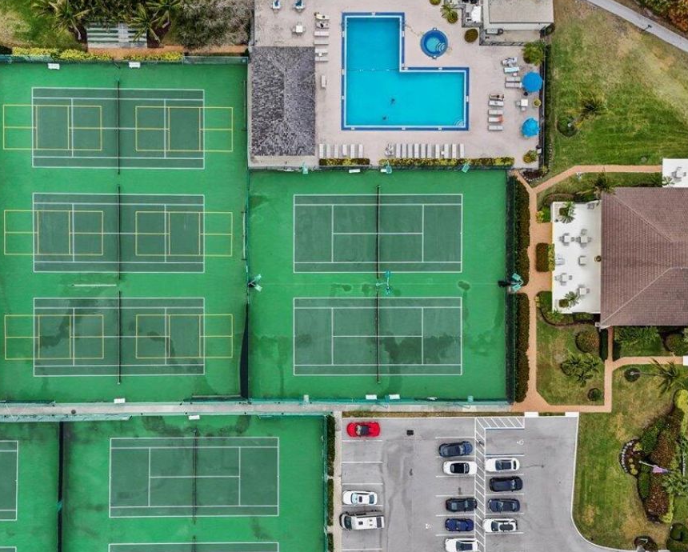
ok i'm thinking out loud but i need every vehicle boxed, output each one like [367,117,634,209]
[346,422,380,438]
[481,517,518,535]
[342,491,377,505]
[484,458,519,475]
[486,498,520,514]
[442,517,476,534]
[443,537,480,552]
[487,476,523,493]
[443,461,476,477]
[339,511,386,531]
[437,442,472,458]
[442,498,478,514]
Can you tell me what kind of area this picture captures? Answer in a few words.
sports ground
